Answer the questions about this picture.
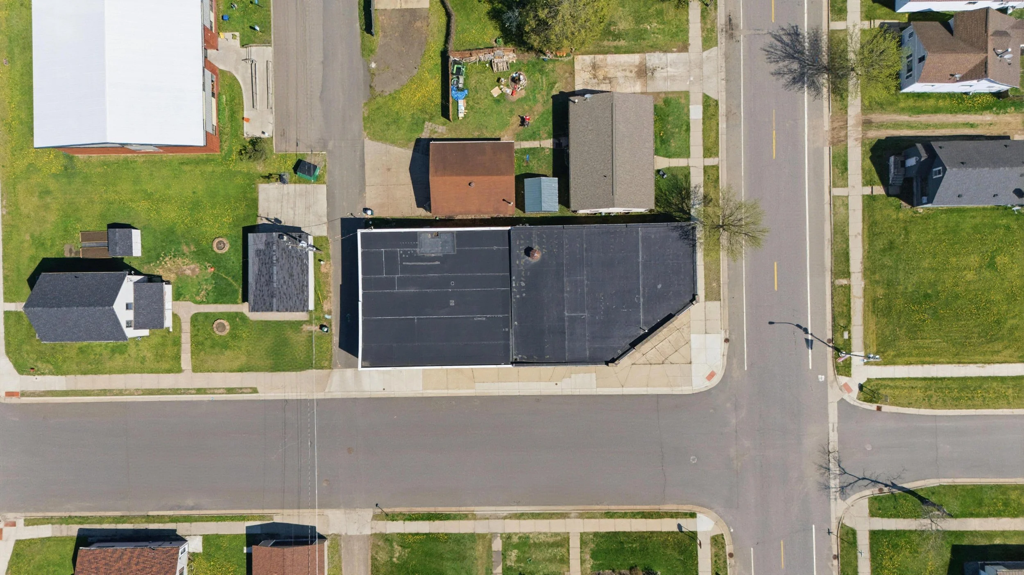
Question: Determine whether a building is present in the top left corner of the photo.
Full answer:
Yes, the scene does show a building in the top left corner of the photo.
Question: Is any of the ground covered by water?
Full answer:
No, there's no water in this view.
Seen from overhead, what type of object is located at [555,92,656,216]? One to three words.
house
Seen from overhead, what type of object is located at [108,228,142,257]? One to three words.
shed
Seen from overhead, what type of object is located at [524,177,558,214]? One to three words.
shed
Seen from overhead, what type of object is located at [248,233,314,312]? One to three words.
building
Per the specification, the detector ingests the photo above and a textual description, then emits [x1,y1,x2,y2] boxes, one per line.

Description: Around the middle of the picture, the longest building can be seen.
[358,218,702,370]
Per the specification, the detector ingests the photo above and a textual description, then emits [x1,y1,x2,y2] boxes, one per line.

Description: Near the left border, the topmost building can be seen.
[32,0,220,156]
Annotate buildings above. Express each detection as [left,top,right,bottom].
[524,177,558,214]
[429,140,515,215]
[74,539,190,575]
[108,228,142,257]
[965,559,1024,575]
[897,7,1019,95]
[252,540,328,575]
[248,233,314,312]
[555,92,656,216]
[358,218,702,370]
[891,140,1024,207]
[32,0,220,156]
[23,271,172,343]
